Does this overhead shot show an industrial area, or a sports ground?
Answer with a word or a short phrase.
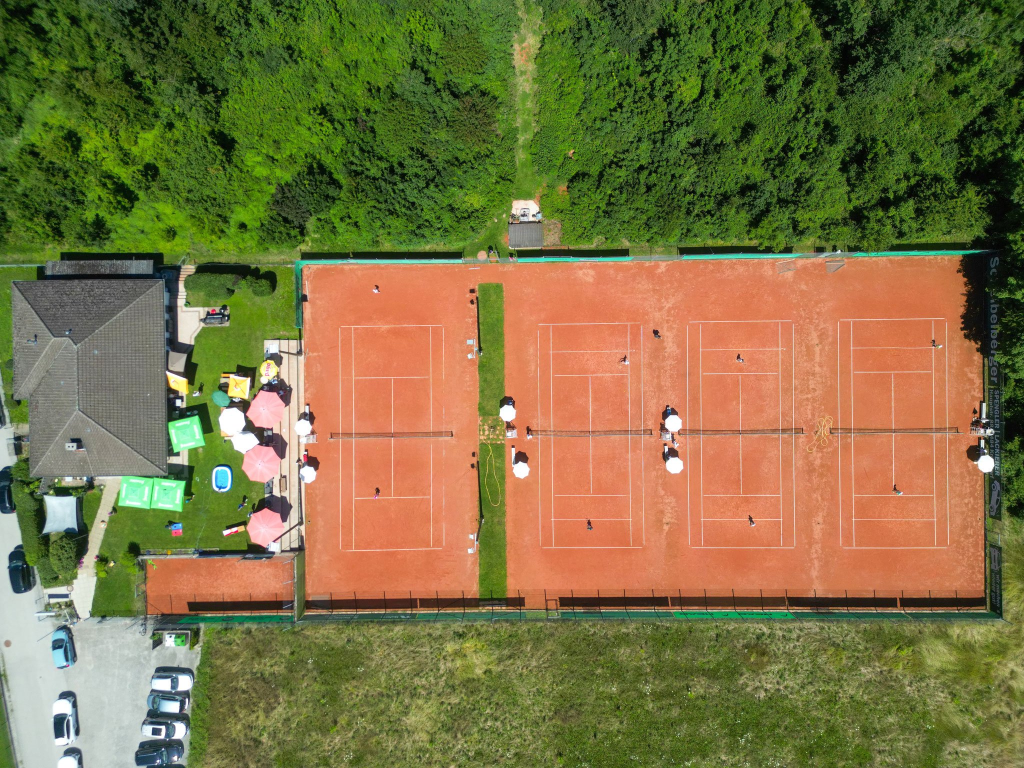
sports ground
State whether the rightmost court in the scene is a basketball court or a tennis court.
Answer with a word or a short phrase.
tennis court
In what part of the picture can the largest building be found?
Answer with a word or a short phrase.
left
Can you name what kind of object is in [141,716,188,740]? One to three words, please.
car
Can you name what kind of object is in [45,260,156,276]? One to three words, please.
shed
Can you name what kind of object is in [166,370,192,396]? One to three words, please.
umbrella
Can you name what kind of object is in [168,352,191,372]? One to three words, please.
umbrella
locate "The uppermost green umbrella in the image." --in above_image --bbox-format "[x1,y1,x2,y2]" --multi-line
[211,389,232,408]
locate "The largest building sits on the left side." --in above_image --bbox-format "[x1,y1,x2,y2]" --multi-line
[11,279,168,478]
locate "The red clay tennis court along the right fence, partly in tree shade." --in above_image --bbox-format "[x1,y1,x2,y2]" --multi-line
[817,258,986,609]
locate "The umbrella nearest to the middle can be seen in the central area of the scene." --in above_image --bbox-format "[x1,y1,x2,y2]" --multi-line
[499,405,516,421]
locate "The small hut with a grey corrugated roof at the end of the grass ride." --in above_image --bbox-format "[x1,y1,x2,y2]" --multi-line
[509,223,543,249]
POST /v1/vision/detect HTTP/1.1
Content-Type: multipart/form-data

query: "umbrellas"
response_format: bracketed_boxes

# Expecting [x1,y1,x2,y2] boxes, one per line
[665,416,681,431]
[499,405,516,421]
[168,352,191,372]
[246,508,285,547]
[513,462,529,478]
[227,375,250,399]
[242,443,281,482]
[231,431,259,453]
[667,457,682,473]
[119,476,154,510]
[973,455,994,472]
[211,389,232,408]
[166,370,192,396]
[247,390,284,428]
[151,476,187,512]
[295,419,312,435]
[300,466,316,482]
[168,414,207,453]
[219,408,245,434]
